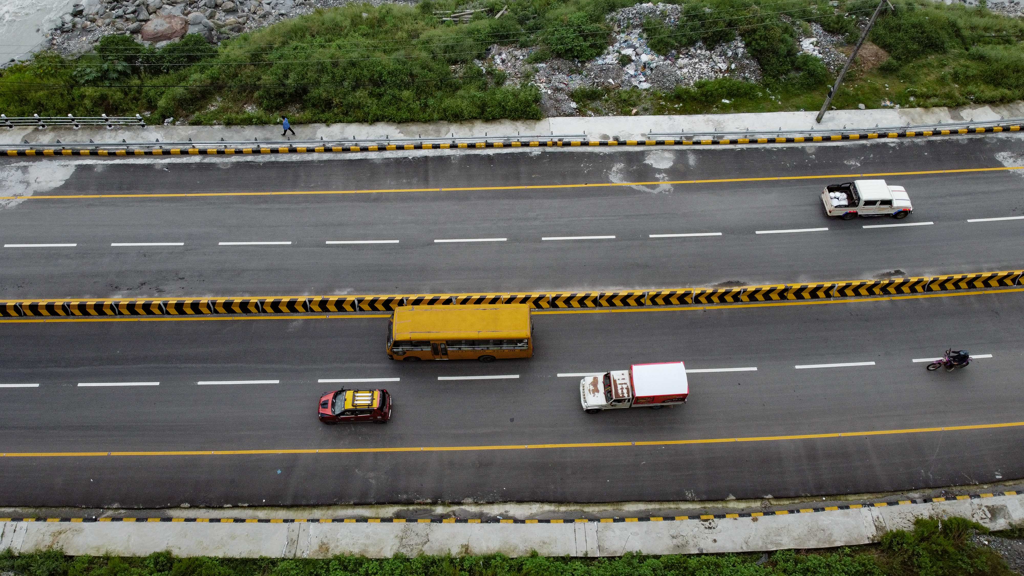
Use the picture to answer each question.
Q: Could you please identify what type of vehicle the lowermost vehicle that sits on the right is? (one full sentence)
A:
The lowermost vehicle that sits on the right in the image is a truck.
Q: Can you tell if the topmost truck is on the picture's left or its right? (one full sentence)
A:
The topmost truck sits on the right side.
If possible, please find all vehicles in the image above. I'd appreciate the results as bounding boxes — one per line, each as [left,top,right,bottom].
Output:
[578,361,690,413]
[815,179,916,219]
[383,304,536,362]
[925,349,977,371]
[315,381,395,426]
